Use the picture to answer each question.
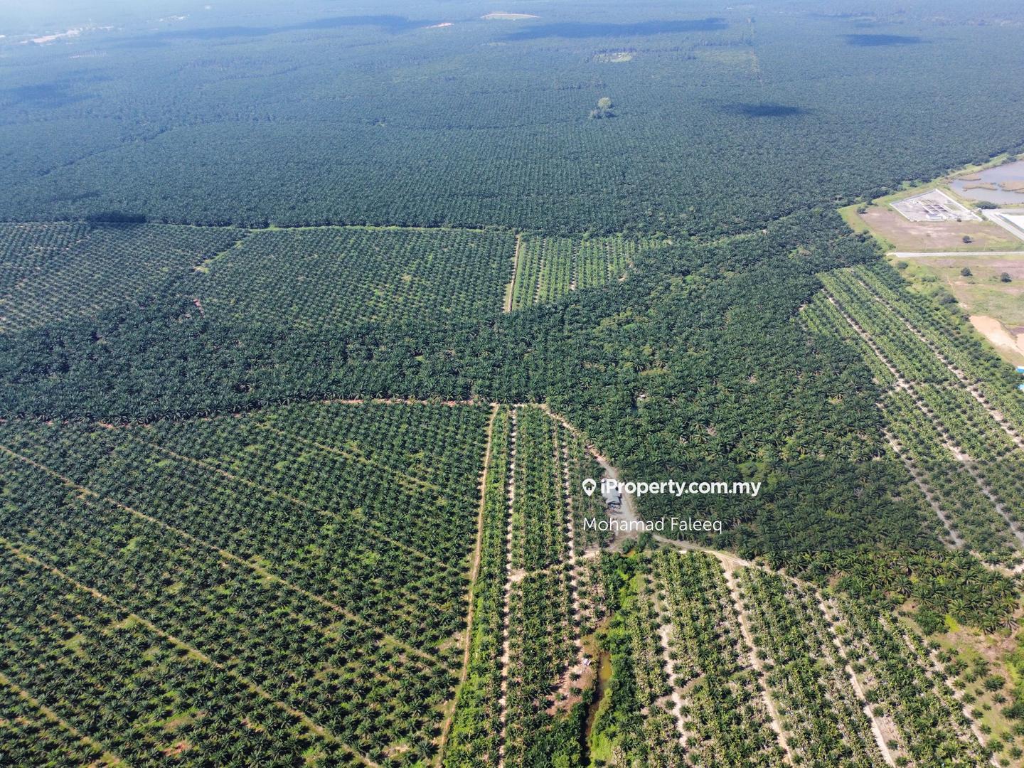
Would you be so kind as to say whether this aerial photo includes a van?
No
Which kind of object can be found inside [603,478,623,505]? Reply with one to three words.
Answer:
shed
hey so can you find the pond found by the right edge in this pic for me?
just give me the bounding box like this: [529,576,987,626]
[951,160,1024,204]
